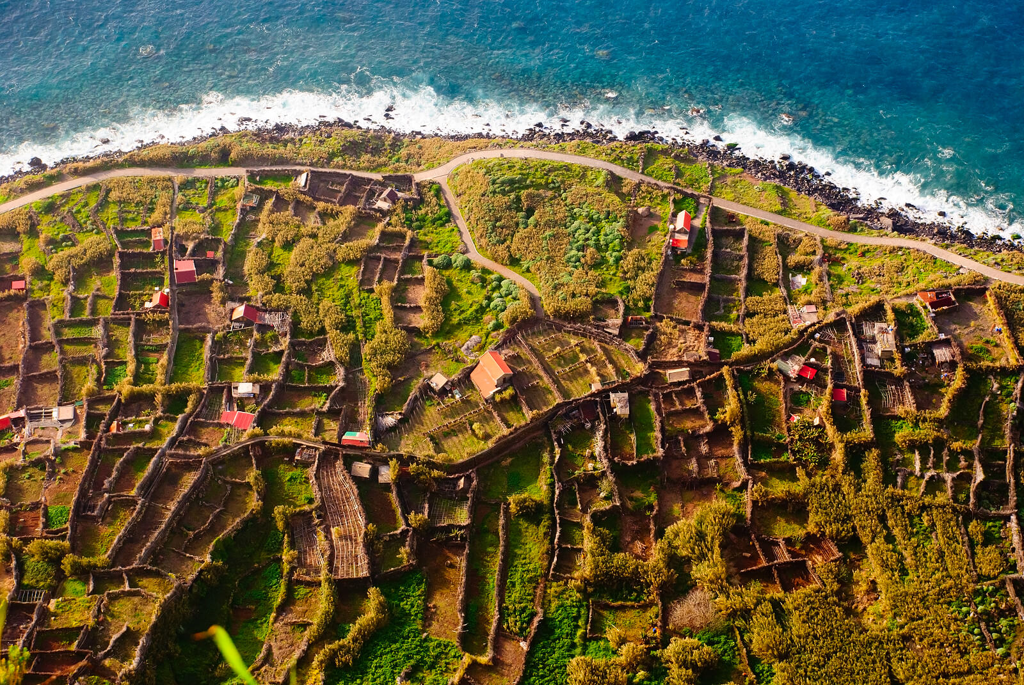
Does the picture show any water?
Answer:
Yes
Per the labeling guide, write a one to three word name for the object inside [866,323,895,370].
house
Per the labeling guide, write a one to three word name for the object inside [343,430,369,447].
shed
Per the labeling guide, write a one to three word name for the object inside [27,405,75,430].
house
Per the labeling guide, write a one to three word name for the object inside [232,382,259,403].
shed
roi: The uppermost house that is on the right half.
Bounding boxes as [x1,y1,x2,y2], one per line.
[671,209,691,253]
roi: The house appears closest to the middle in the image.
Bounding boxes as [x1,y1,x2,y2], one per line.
[471,350,512,401]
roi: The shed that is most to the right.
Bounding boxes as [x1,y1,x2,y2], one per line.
[917,290,956,316]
